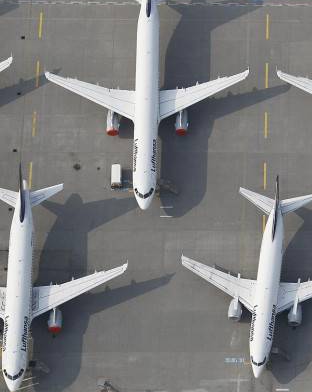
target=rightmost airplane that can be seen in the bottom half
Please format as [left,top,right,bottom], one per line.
[181,177,312,378]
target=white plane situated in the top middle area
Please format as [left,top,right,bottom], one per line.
[46,0,250,210]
